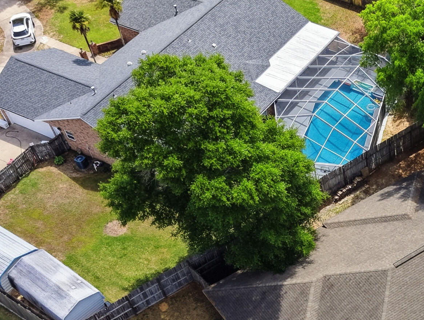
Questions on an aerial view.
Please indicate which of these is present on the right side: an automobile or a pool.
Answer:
pool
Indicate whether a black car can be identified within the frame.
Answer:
No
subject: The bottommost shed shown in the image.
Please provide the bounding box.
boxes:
[6,253,111,320]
